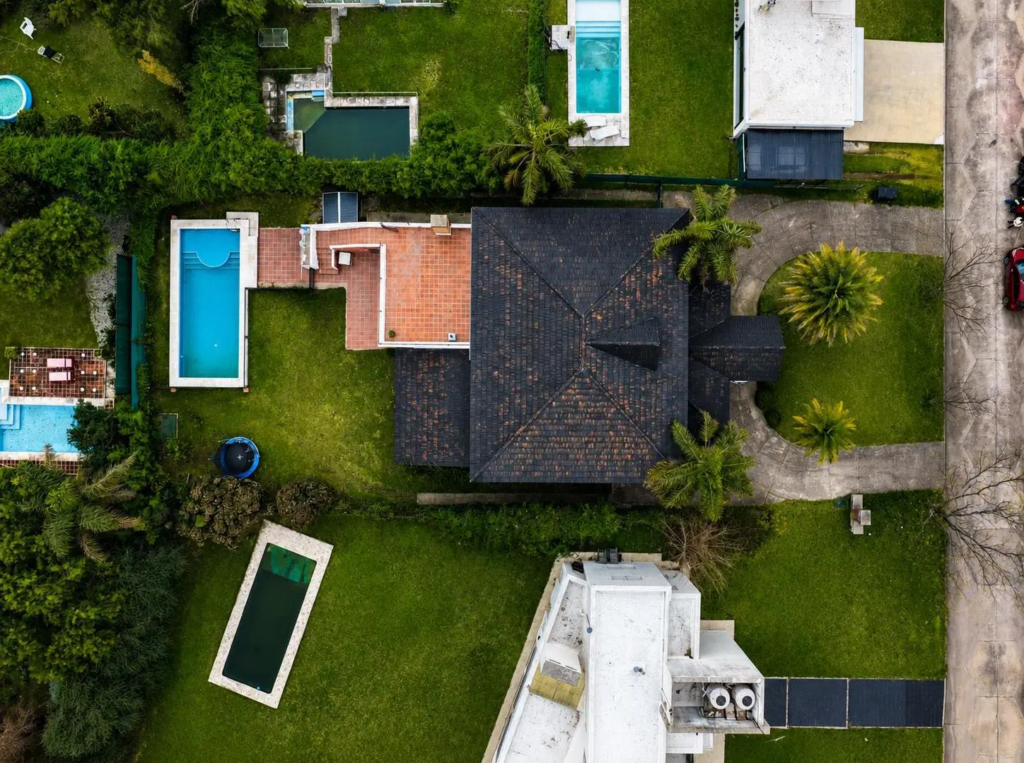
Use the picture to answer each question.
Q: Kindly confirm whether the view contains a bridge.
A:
No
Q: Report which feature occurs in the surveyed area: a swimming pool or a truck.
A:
swimming pool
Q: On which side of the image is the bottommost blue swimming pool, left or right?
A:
left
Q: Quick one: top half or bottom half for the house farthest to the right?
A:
top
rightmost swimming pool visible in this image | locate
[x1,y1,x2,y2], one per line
[568,0,629,147]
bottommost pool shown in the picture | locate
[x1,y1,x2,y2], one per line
[209,521,333,708]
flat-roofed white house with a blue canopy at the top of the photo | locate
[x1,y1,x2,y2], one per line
[733,0,863,184]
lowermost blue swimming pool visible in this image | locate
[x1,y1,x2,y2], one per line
[0,396,92,460]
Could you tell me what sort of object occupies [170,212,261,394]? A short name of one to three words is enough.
swimming pool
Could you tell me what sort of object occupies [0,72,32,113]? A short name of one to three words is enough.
swimming pool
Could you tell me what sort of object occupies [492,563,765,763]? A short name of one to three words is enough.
house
